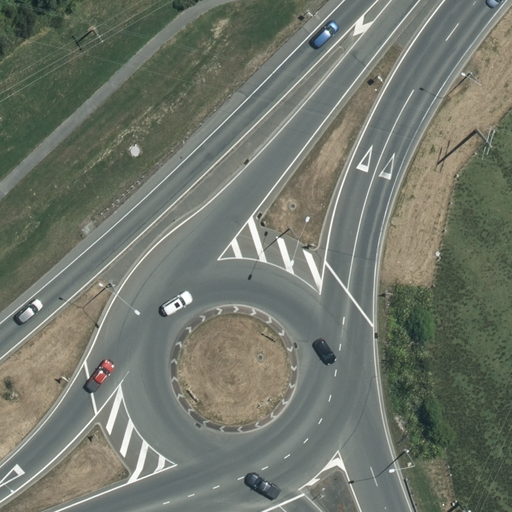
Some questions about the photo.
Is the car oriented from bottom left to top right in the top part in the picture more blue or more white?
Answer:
blue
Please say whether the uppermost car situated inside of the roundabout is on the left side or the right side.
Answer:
left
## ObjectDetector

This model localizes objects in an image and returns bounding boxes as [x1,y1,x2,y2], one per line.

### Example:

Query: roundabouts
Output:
[124,258,344,478]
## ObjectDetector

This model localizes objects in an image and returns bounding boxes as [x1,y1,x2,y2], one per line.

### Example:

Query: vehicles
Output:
[313,336,336,366]
[13,298,43,326]
[310,20,338,50]
[244,472,281,501]
[158,290,193,318]
[486,0,503,8]
[84,358,114,393]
